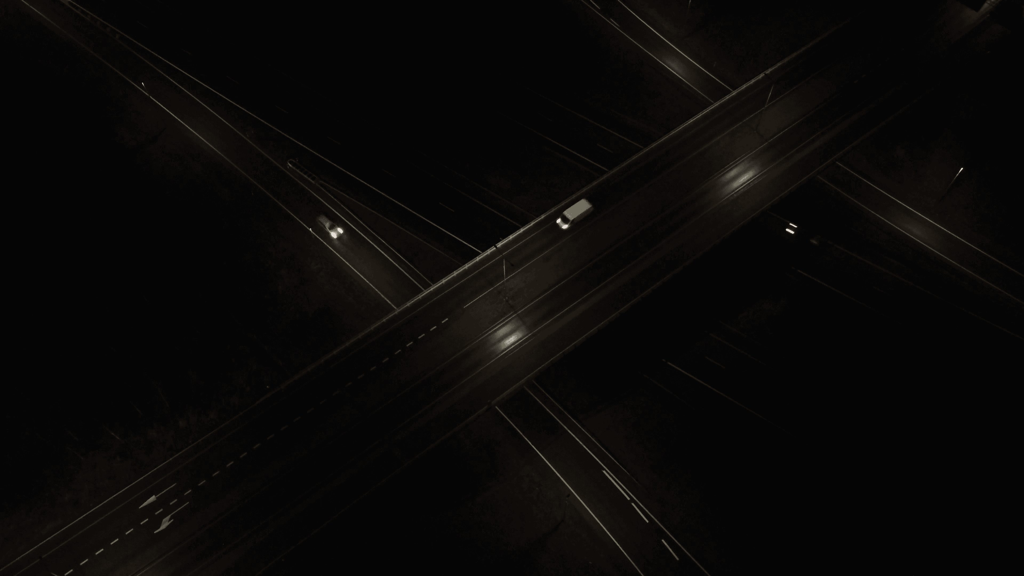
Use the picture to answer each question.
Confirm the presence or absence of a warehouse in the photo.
No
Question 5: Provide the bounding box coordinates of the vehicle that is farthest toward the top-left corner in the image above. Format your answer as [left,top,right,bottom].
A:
[315,214,341,237]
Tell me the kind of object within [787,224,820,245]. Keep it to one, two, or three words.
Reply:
car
